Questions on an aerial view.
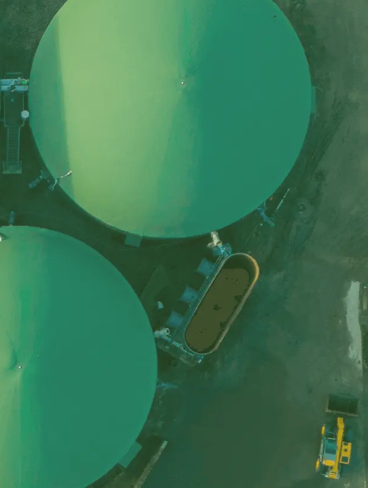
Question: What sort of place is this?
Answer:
industrial area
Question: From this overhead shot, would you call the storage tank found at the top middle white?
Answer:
No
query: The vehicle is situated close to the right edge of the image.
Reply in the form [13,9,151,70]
[315,395,361,482]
